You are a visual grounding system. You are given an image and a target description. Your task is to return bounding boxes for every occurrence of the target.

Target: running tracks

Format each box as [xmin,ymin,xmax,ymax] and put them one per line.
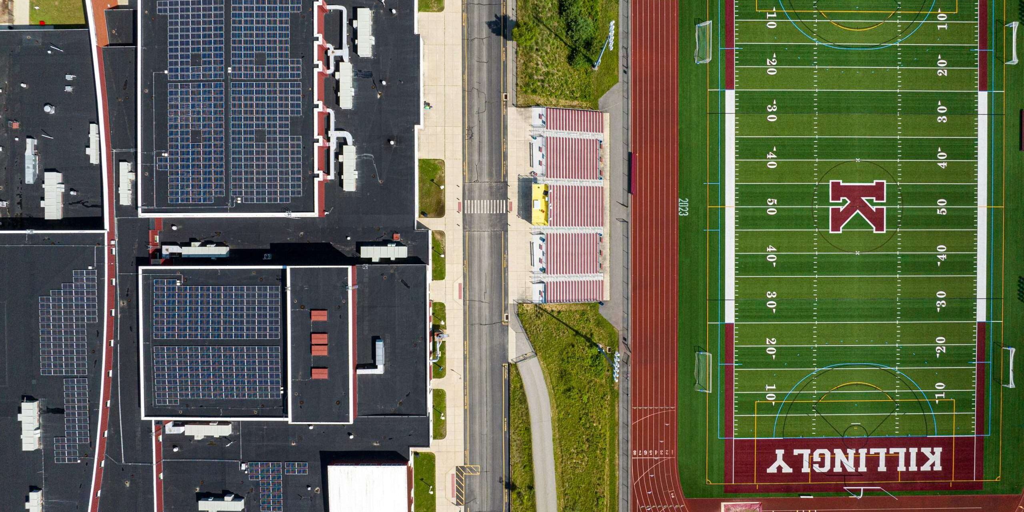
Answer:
[632,0,1024,512]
